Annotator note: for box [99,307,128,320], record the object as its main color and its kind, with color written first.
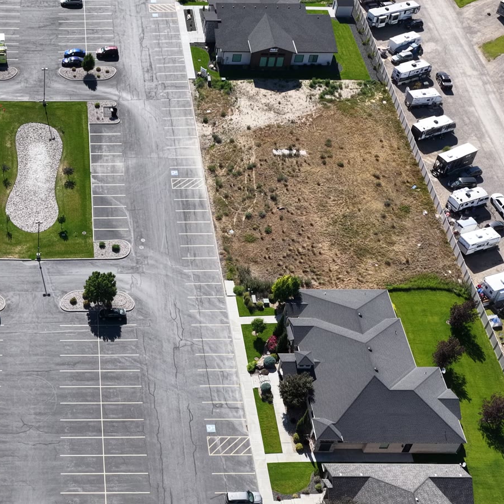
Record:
black vehicle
